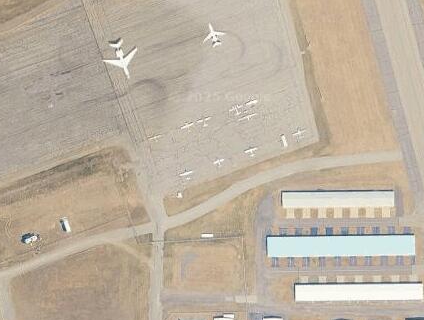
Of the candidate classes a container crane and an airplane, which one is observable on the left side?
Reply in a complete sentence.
The feature located on the left side is an airplane.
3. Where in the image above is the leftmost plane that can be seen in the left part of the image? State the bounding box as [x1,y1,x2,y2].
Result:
[104,39,137,76]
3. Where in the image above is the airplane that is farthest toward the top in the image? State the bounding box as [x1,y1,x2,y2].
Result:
[203,24,226,45]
